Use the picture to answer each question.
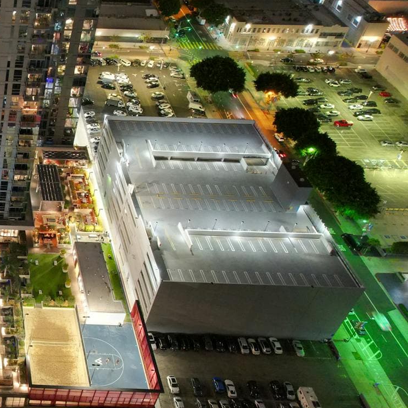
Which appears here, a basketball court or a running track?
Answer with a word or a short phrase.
basketball court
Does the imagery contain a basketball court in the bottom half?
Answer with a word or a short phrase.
Yes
